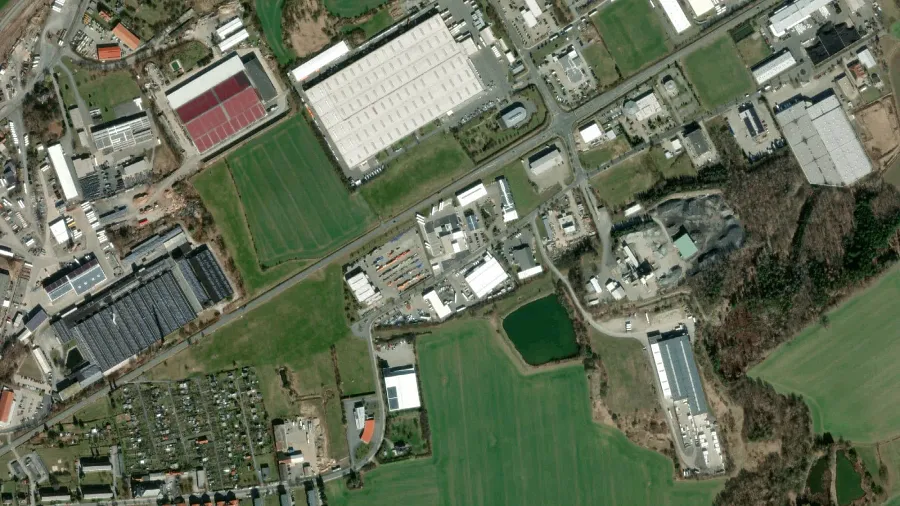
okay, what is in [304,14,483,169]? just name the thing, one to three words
warehouse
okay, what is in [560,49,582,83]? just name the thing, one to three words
building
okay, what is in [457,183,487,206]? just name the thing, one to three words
building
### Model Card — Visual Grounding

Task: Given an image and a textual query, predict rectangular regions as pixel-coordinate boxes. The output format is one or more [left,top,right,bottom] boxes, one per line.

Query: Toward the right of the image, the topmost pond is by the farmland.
[504,294,578,365]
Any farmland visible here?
Yes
